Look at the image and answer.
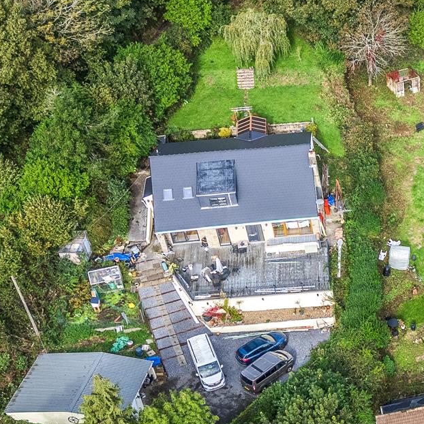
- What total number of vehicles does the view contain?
3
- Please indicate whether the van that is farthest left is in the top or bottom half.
bottom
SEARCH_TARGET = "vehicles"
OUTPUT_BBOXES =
[238,349,296,391]
[185,334,222,385]
[234,329,287,364]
